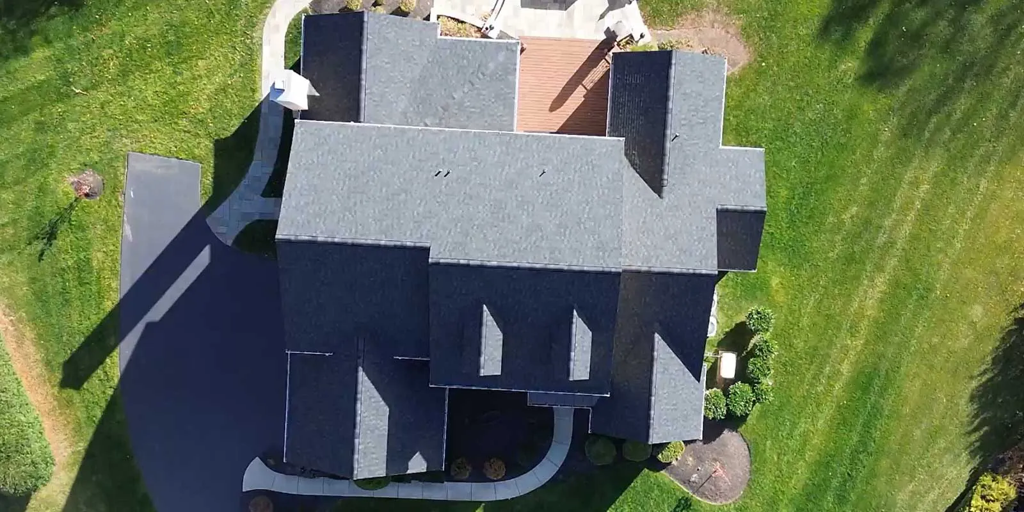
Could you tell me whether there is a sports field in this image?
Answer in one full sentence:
No, there isn't any sports field down there.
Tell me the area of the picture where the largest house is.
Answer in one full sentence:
Look in the center portion of the view to spot the largest house.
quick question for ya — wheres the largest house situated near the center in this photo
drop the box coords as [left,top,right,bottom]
[268,10,768,479]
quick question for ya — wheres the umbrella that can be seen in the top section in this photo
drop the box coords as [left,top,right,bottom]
[609,22,625,41]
